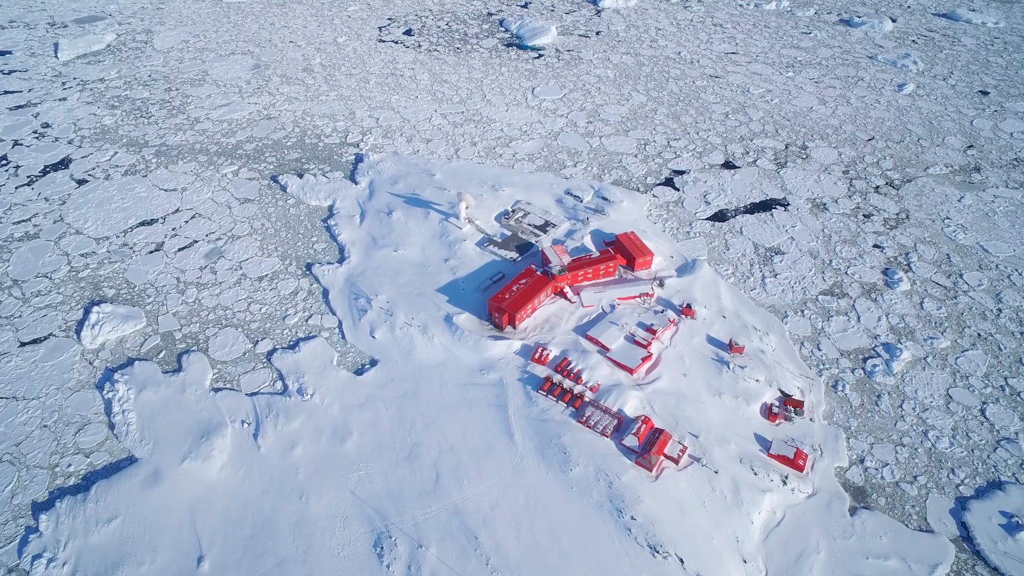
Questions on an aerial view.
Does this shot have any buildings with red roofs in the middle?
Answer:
Yes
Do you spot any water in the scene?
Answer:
Yes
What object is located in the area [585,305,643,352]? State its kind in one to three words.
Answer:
building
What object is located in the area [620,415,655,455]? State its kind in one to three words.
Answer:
building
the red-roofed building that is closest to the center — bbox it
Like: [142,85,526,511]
[486,265,553,333]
